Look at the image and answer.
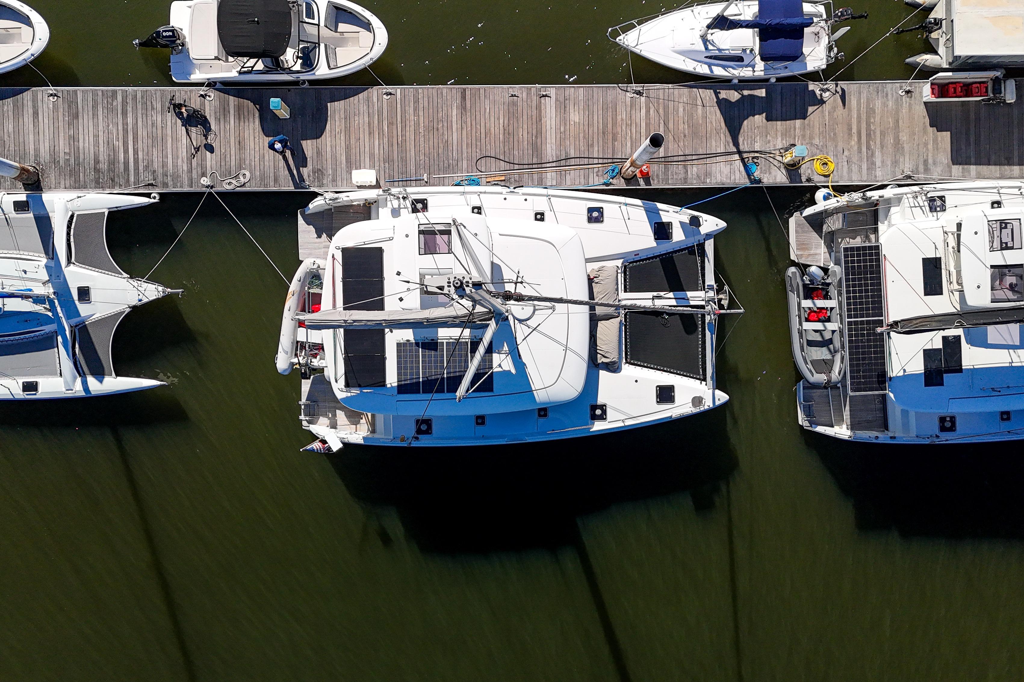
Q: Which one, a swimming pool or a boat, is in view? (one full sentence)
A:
Looking from above, you can make out a boat.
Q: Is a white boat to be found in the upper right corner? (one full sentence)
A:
Yes, there is a white boat in the upper right corner.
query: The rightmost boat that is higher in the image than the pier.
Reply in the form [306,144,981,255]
[894,0,1024,73]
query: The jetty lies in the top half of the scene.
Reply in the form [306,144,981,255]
[0,78,1024,192]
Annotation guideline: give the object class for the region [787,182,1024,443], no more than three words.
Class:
boat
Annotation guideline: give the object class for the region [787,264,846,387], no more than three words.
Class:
boat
